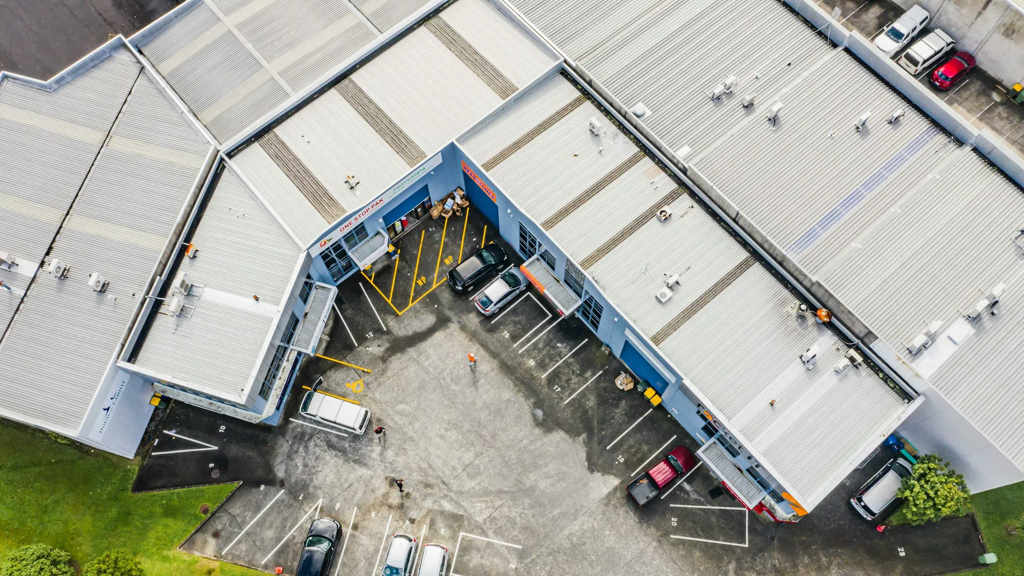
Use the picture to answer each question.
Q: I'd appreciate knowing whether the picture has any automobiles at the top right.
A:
Yes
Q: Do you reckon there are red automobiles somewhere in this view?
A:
Yes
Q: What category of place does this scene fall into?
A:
industrial area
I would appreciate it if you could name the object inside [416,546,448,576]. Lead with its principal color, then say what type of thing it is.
white car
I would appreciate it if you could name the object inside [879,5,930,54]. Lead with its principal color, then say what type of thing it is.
white truck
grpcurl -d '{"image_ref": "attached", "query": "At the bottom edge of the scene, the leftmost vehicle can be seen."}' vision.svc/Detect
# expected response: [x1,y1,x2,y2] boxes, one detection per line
[295,516,342,576]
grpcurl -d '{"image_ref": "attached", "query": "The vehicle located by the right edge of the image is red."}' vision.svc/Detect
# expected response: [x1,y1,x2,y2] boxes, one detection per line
[931,54,973,89]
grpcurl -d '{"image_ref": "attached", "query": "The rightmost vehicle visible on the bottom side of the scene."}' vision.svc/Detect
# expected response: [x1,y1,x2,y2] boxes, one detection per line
[625,449,697,509]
